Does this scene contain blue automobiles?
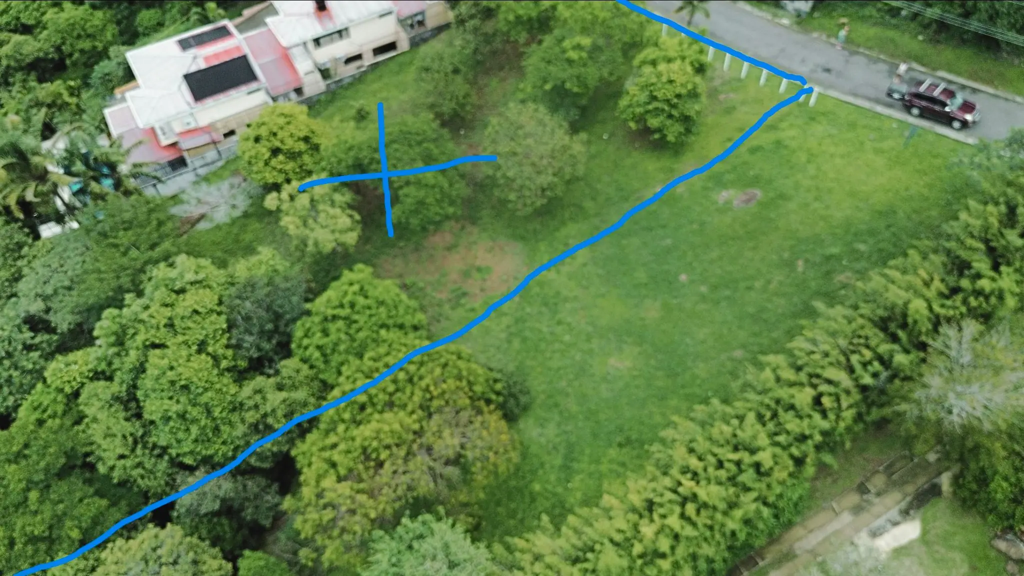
No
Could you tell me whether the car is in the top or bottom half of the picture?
top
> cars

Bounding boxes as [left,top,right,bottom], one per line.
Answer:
[886,77,986,130]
